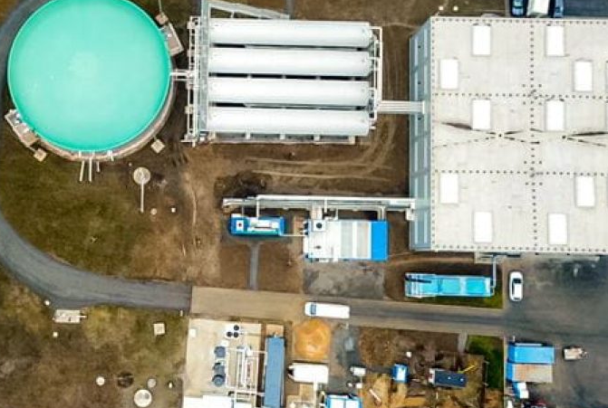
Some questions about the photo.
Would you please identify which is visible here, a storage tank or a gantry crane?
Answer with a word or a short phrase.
storage tank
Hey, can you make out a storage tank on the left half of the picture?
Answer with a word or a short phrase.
Yes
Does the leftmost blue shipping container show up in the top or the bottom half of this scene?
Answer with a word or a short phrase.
bottom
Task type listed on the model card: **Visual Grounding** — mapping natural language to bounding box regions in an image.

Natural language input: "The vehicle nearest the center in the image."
[305,302,351,320]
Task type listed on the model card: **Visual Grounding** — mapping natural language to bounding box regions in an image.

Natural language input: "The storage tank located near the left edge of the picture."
[3,0,183,182]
